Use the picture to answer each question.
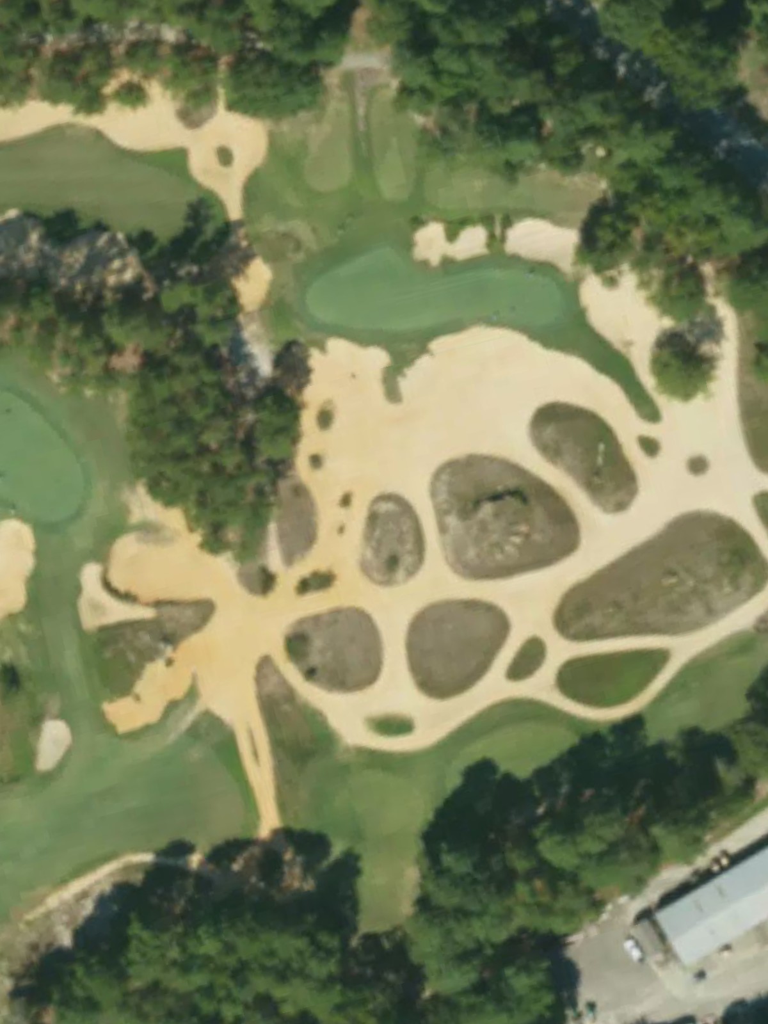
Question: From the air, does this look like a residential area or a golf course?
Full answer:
It's a golf course.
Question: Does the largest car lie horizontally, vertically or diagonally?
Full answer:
The largest car is oriented diagonally.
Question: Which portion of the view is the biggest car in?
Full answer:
You can find the biggest car in the bottom right area of the picture.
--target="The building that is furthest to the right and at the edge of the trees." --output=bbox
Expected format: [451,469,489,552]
[656,849,768,970]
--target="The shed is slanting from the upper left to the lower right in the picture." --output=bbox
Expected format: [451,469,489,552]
[632,921,666,962]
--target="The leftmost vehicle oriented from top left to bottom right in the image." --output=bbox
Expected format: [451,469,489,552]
[620,936,645,965]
